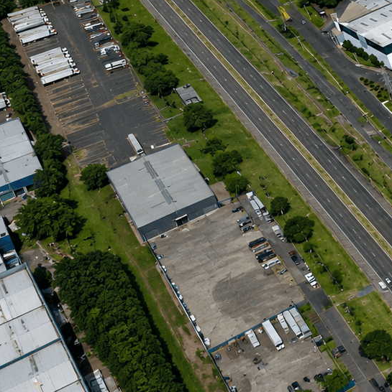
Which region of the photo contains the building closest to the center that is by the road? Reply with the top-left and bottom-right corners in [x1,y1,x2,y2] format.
[107,143,219,241]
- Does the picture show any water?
No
